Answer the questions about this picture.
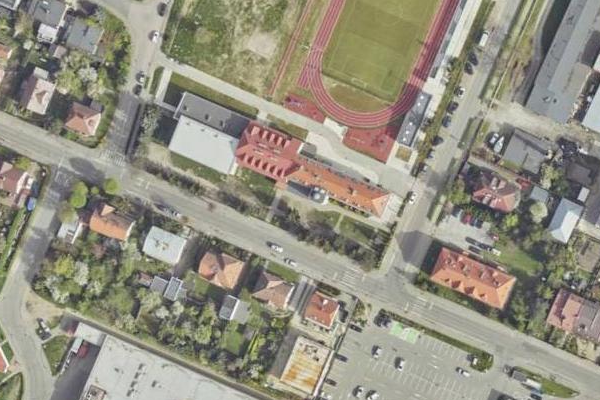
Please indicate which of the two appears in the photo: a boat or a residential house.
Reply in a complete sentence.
The image shows a residential house.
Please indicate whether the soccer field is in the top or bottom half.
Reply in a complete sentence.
The soccer field sits in the top half of the picture.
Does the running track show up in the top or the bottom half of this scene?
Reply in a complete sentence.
It is in the top half that the running track appears.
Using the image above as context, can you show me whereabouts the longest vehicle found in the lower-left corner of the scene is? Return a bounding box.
[72,338,86,359]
